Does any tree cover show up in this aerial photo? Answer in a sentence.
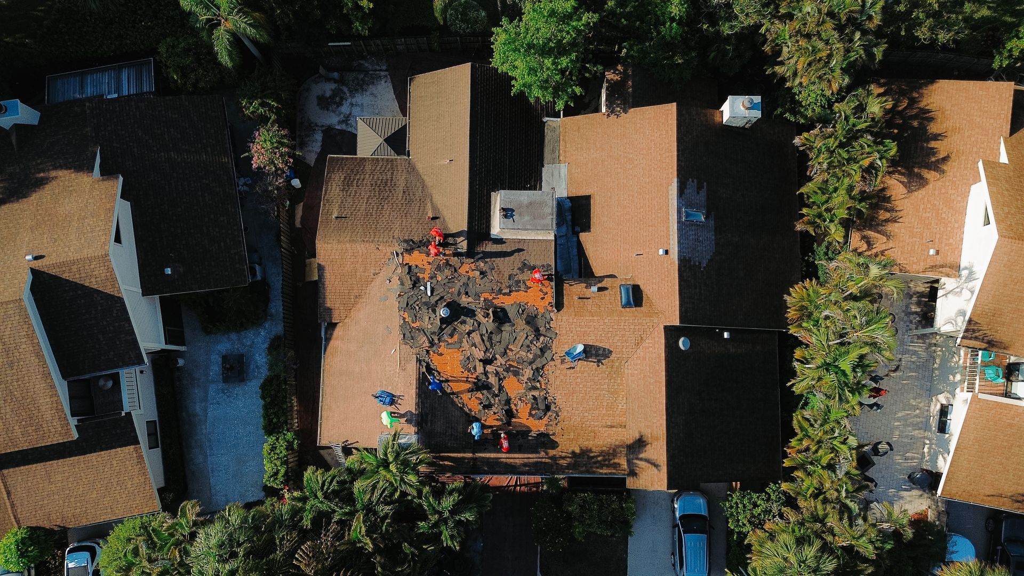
Yes, there's tree cover in this view.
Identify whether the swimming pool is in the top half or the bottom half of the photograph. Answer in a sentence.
It is in the bottom half that the swimming pool appears.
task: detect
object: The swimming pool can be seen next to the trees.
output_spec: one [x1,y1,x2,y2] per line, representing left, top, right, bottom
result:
[928,528,981,576]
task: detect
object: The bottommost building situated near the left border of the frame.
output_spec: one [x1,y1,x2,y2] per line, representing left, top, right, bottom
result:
[0,96,251,531]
